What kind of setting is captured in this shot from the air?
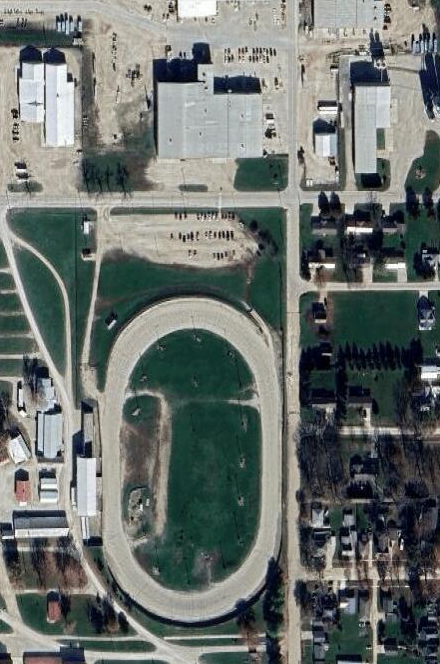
sports ground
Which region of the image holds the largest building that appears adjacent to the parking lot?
top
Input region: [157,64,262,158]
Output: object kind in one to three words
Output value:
building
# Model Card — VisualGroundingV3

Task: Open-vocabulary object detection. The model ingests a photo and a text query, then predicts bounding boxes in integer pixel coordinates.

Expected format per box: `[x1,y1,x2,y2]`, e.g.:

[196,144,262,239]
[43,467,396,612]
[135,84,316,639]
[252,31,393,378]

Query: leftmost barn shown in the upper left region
[19,62,43,122]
